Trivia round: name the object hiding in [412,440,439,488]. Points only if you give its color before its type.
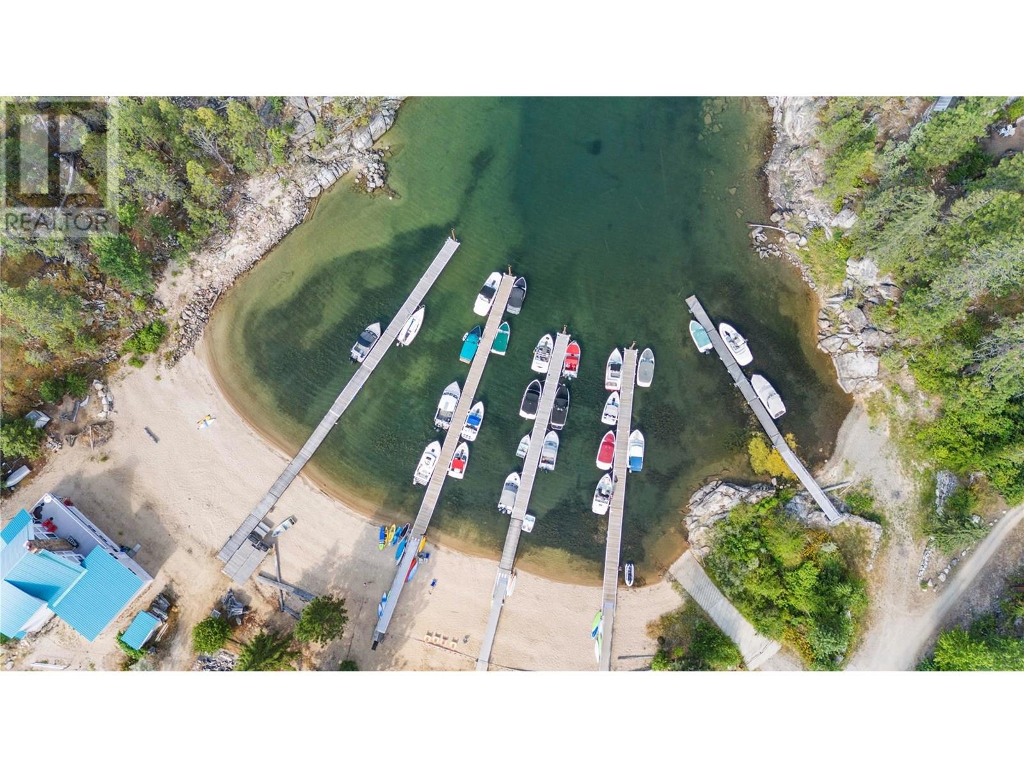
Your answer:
white boat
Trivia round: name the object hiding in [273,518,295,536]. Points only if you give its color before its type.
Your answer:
white boat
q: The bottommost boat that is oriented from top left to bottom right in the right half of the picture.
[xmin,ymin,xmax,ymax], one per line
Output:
[752,375,786,419]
